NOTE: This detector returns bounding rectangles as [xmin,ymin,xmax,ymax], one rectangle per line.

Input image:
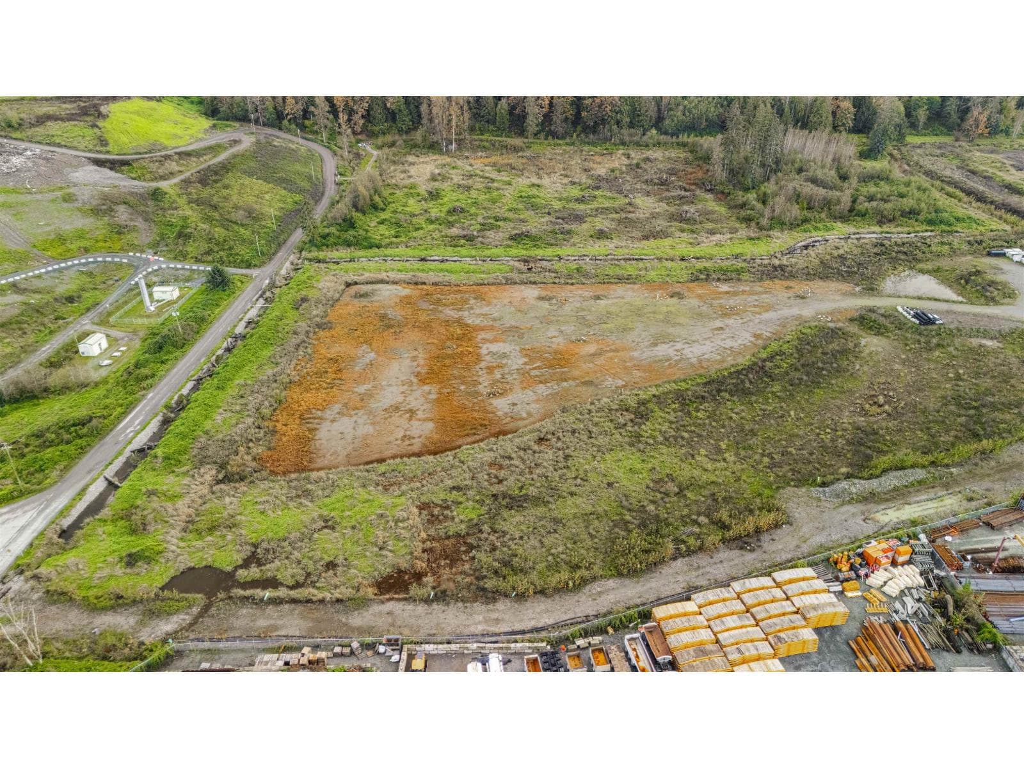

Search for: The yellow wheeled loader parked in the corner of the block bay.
[408,649,428,677]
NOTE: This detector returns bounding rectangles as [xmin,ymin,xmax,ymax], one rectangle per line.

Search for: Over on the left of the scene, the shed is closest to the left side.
[76,334,103,356]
